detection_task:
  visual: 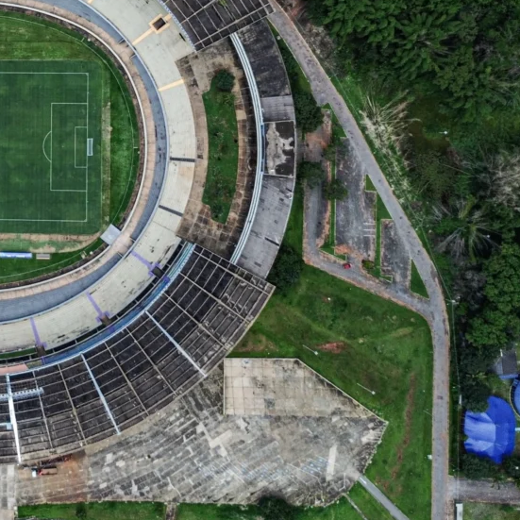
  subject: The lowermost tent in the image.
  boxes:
[461,396,516,462]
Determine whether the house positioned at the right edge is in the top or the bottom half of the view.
bottom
